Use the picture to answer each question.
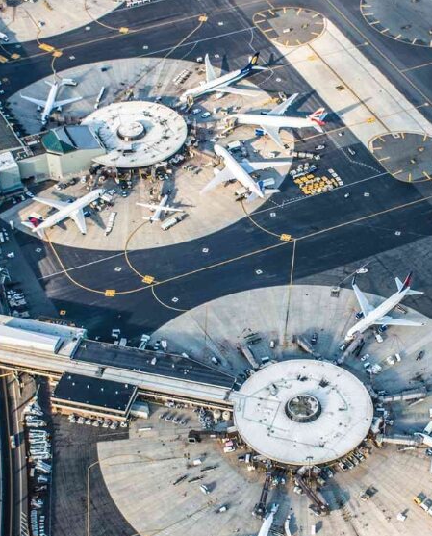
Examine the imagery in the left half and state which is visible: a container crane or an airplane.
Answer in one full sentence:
There is an airplane in the left half.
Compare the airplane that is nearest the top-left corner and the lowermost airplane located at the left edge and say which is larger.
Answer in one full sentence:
The lowermost airplane located at the left edge takes up more space than the airplane that is nearest the top-left corner does.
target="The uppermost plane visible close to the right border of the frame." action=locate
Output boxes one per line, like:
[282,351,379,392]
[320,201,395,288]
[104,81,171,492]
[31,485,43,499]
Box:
[347,272,431,339]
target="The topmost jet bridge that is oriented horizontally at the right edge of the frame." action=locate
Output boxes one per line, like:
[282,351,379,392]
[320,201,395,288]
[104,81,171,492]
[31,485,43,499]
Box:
[372,383,429,408]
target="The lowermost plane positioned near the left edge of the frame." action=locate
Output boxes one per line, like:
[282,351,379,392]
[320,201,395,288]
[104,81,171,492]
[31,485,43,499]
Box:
[19,188,104,234]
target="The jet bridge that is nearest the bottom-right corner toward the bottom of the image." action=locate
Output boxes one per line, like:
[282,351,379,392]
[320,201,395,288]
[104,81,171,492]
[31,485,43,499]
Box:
[374,433,422,449]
